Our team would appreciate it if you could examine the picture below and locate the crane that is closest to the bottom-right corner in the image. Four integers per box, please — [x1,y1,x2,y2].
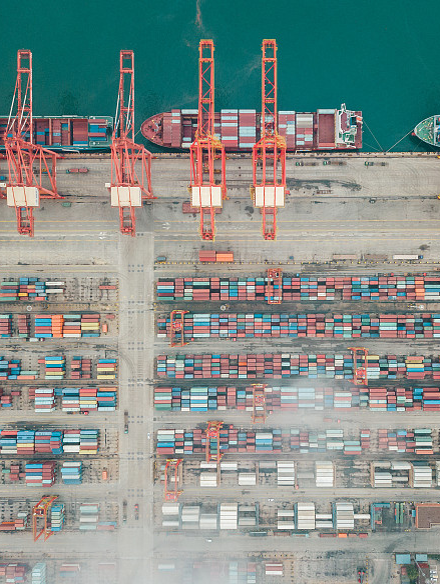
[345,349,368,390]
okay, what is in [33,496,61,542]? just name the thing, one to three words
container crane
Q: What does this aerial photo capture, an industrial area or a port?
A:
port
